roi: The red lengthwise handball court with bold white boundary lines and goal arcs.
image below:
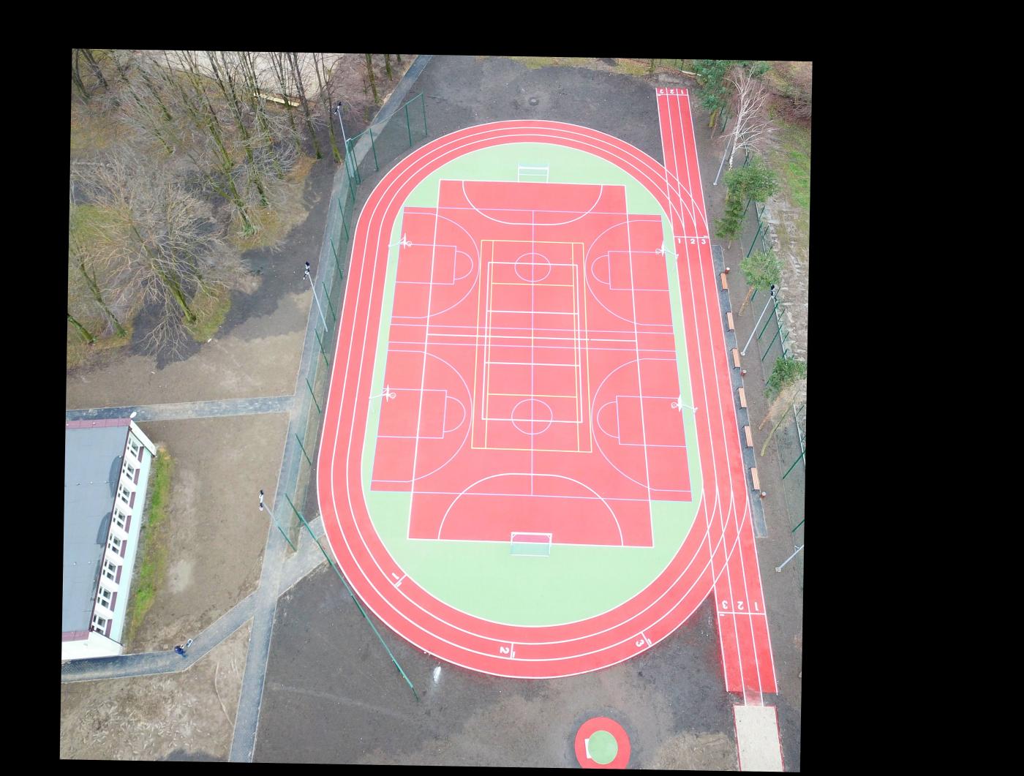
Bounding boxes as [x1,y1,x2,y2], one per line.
[407,179,654,547]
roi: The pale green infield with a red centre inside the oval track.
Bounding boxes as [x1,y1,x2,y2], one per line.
[362,143,702,625]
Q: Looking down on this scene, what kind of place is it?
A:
sports ground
